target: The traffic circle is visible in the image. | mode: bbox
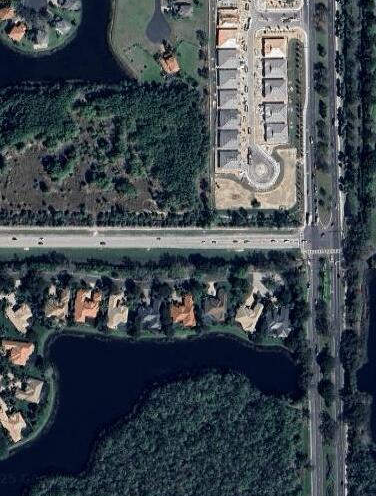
[245,144,280,187]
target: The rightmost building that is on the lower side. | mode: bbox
[267,305,292,339]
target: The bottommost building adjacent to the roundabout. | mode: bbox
[218,150,239,169]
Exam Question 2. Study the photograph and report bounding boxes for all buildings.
[1,340,38,362]
[73,290,100,326]
[106,294,129,332]
[218,9,238,28]
[0,407,27,443]
[265,124,287,142]
[219,130,238,148]
[218,30,237,48]
[264,39,286,57]
[265,103,287,121]
[218,50,237,67]
[160,51,183,75]
[33,29,50,46]
[136,304,162,336]
[19,375,47,404]
[45,289,70,321]
[218,110,238,128]
[7,20,27,43]
[233,297,263,335]
[264,80,286,98]
[61,0,85,10]
[264,60,286,77]
[218,70,237,88]
[0,6,15,20]
[53,16,74,36]
[169,297,195,331]
[218,150,239,169]
[267,305,292,339]
[2,305,34,337]
[219,90,238,108]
